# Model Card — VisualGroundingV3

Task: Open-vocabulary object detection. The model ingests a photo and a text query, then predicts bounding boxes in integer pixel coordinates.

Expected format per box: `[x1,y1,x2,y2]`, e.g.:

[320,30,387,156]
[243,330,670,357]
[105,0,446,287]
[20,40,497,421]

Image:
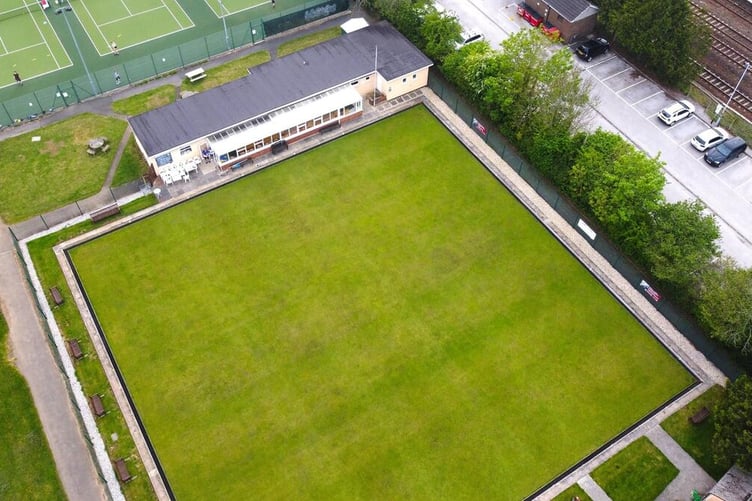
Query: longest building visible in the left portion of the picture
[124,21,432,180]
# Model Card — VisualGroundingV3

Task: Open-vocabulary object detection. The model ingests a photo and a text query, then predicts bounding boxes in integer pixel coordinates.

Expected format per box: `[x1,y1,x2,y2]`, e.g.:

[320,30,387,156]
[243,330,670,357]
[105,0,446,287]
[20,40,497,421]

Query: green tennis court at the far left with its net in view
[0,0,73,88]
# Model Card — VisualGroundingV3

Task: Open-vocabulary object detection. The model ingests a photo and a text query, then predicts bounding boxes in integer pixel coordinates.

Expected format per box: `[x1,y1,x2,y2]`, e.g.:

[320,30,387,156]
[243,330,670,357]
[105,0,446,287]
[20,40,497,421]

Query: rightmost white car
[692,123,734,151]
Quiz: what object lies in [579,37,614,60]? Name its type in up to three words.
car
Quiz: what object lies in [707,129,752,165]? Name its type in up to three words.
car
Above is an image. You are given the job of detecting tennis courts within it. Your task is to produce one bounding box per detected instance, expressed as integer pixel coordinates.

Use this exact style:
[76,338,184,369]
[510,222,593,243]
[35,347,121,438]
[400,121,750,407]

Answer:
[69,0,194,56]
[205,0,270,18]
[0,0,73,88]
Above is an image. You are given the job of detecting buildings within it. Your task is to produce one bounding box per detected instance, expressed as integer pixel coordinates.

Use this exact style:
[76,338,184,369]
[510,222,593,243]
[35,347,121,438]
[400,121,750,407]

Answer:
[704,461,752,501]
[124,21,432,180]
[514,0,605,41]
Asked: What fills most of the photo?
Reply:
grass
